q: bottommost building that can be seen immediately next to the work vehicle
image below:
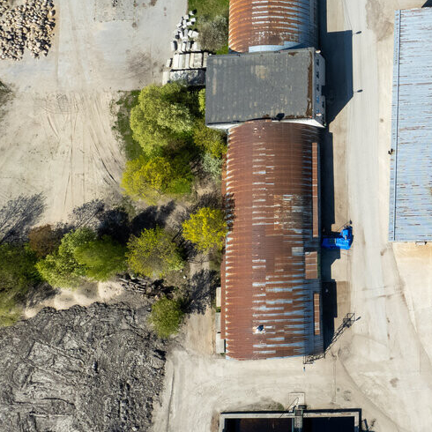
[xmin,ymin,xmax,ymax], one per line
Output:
[225,125,326,358]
